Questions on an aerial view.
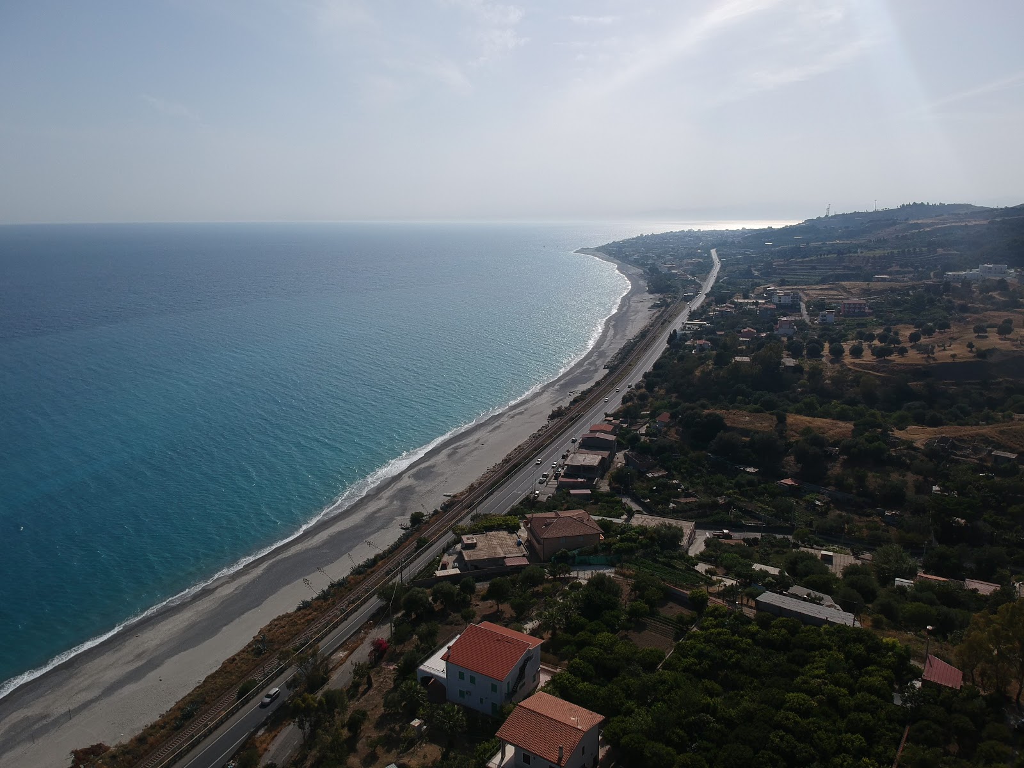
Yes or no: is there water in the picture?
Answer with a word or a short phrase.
Yes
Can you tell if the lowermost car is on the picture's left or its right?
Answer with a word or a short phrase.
left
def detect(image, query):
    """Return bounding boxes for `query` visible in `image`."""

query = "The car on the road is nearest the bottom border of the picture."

[258,689,284,710]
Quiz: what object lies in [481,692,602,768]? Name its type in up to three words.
house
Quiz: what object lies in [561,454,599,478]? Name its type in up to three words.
building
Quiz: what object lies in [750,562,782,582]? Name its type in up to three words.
shed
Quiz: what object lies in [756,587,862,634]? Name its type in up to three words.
shed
